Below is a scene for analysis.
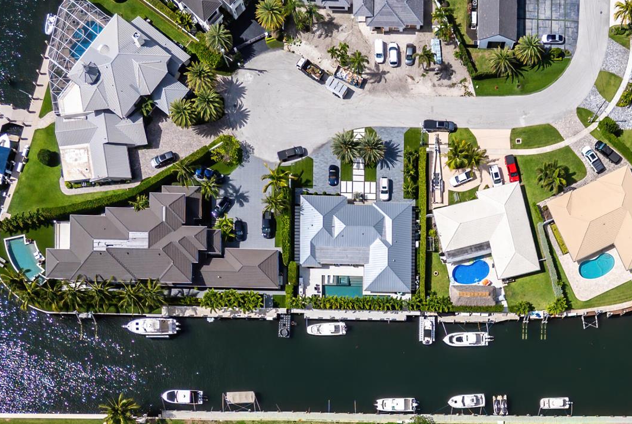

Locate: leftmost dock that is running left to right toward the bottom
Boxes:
[162,306,290,319]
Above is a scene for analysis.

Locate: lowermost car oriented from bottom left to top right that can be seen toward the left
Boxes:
[211,196,232,215]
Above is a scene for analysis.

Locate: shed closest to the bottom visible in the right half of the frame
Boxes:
[450,286,497,306]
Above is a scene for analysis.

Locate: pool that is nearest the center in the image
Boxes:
[321,274,365,299]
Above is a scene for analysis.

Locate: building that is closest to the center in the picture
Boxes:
[301,195,411,293]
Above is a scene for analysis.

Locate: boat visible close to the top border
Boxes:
[44,8,57,34]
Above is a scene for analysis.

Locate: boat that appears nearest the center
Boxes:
[306,322,348,335]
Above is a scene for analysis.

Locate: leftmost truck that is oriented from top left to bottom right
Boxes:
[295,53,324,80]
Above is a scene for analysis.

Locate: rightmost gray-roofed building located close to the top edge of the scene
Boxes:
[476,0,518,46]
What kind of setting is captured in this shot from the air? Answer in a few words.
residential area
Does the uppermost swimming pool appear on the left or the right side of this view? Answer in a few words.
left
